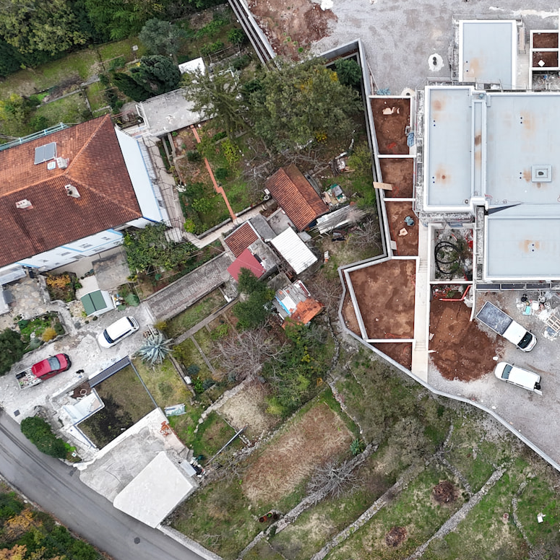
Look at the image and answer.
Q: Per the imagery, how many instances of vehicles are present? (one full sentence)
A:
I count 4 vehicles.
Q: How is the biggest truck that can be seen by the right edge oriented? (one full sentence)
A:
The biggest truck that can be seen by the right edge has been laid out at an angle relative to the frame.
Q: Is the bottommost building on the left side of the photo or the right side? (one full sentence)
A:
It is on the left.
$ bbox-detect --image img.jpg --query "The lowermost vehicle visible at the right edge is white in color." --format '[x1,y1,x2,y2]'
[493,362,545,396]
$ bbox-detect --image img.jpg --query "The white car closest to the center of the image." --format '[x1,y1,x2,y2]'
[98,313,142,349]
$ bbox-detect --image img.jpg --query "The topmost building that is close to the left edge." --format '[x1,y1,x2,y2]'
[0,114,175,280]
